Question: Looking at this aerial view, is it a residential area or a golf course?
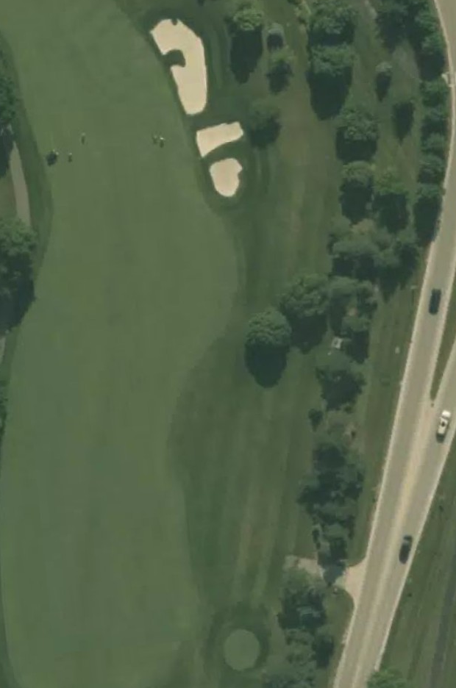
golf course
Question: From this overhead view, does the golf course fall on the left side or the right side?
left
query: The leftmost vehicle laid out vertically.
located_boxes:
[400,536,412,562]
